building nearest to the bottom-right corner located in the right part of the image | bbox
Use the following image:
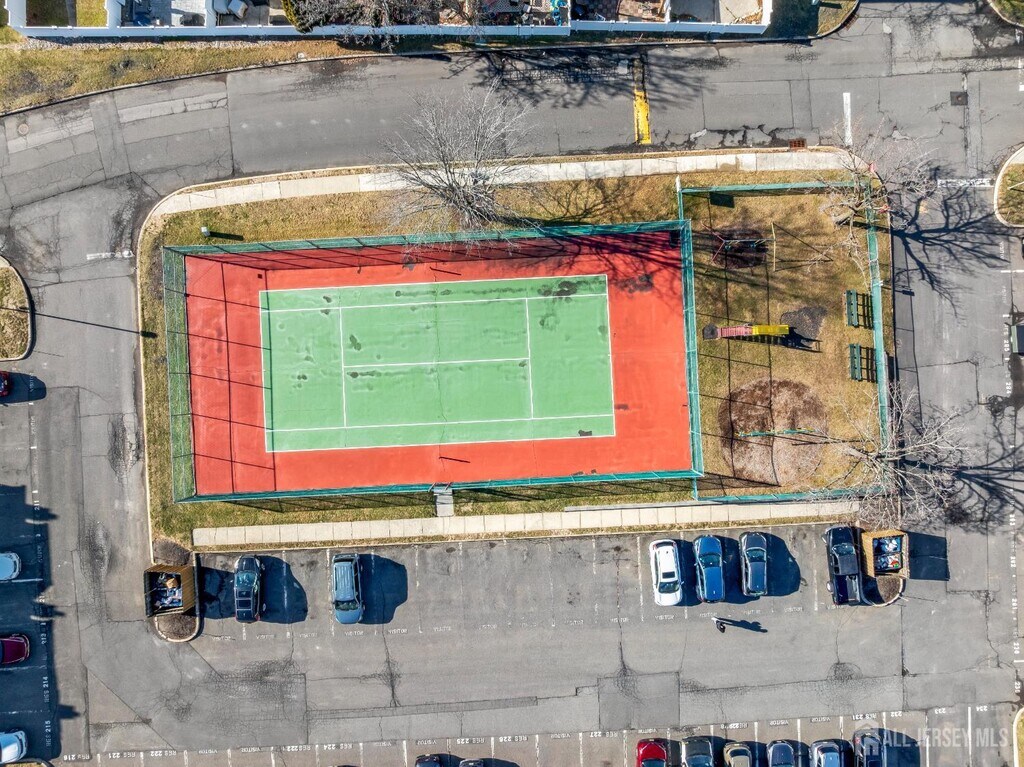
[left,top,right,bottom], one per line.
[864,531,913,577]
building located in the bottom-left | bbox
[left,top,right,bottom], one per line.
[145,566,194,617]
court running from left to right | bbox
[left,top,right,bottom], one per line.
[184,229,692,495]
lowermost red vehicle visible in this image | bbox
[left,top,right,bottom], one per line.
[638,736,670,767]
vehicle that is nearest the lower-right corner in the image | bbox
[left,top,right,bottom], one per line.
[850,729,889,767]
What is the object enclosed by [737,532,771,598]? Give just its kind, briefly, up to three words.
car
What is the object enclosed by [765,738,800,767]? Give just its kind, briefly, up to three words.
car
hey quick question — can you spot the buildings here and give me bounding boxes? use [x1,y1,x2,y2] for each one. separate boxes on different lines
[145,566,194,617]
[864,531,913,577]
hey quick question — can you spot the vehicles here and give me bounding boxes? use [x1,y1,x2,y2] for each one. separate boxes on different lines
[329,552,364,624]
[649,539,684,605]
[459,757,486,767]
[1010,326,1024,354]
[0,729,29,767]
[0,551,22,580]
[0,370,12,396]
[765,738,800,767]
[681,735,716,767]
[808,738,842,767]
[723,741,753,767]
[229,553,265,624]
[824,525,865,606]
[692,535,726,604]
[416,752,443,767]
[0,633,32,668]
[737,532,771,598]
[850,729,889,767]
[638,736,670,767]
